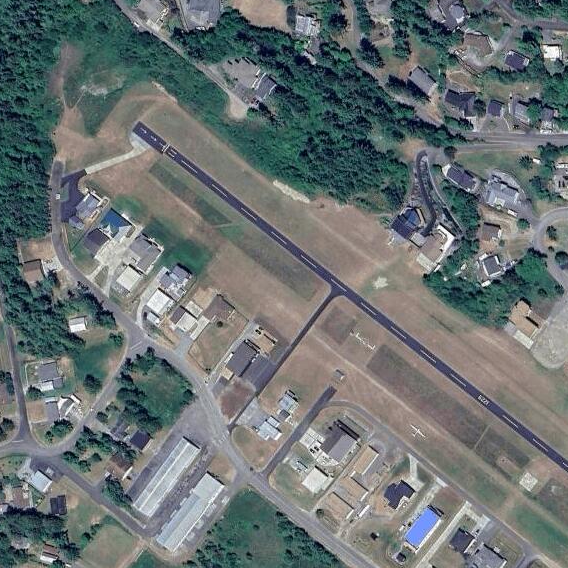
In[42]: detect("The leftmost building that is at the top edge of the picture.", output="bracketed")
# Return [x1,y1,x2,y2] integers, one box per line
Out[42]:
[133,0,168,23]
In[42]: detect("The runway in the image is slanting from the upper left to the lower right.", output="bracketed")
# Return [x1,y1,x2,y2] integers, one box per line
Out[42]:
[131,119,568,476]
